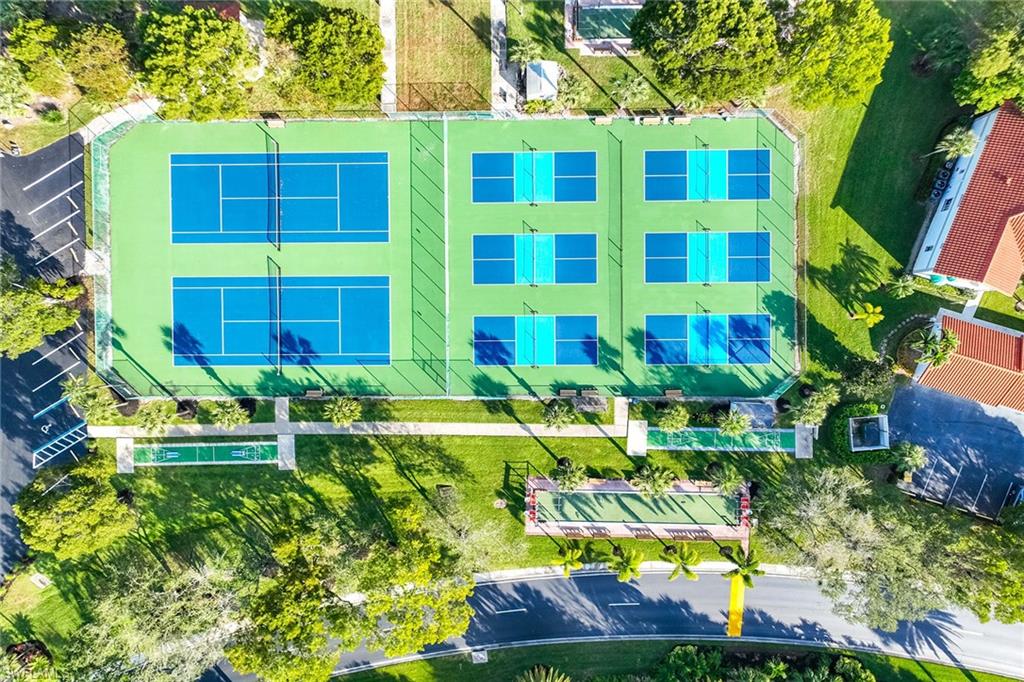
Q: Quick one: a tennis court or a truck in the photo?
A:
tennis court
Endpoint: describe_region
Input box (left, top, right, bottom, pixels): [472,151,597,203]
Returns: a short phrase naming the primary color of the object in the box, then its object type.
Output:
blue sports court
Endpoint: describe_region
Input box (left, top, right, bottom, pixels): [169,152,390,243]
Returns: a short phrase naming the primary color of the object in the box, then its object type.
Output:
blue tennis court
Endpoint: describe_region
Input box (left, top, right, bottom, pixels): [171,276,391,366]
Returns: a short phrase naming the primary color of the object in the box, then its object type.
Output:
blue tennis court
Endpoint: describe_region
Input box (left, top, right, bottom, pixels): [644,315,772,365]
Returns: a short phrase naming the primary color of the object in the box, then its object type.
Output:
blue sports court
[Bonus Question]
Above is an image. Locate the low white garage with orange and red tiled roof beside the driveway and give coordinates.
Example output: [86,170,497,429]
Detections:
[908,307,1024,412]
